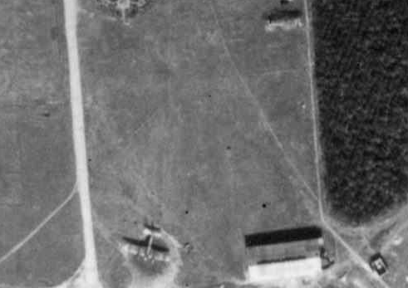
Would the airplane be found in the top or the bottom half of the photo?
bottom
